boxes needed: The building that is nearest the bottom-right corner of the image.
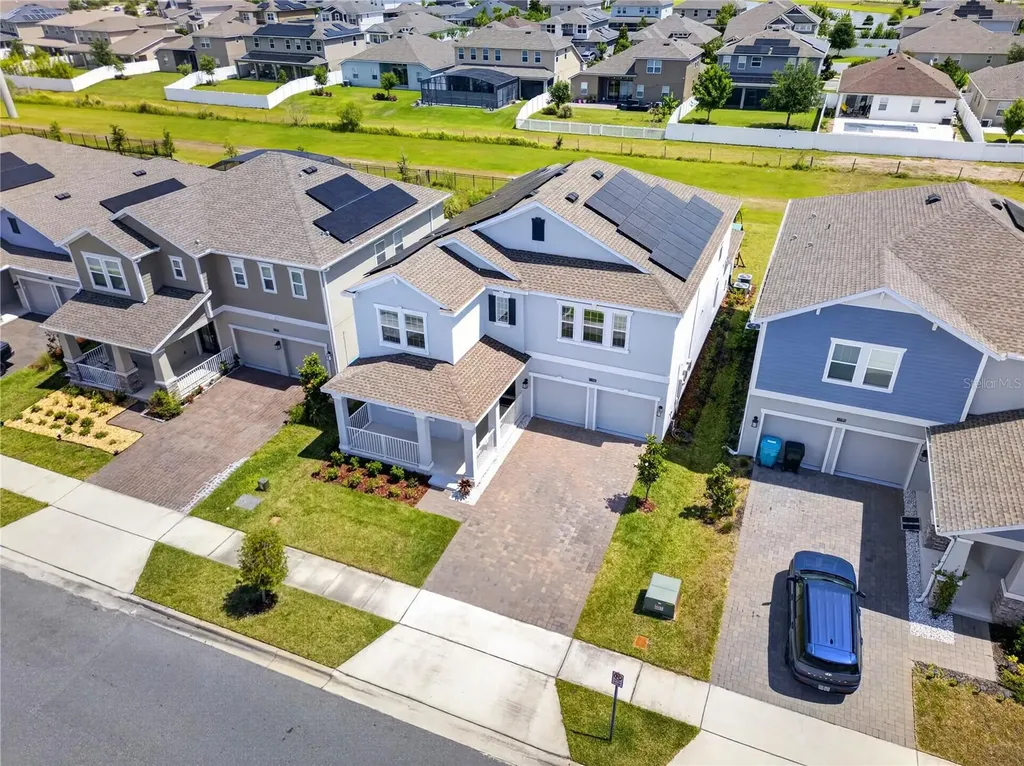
[718,181,1024,630]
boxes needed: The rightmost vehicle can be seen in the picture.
[785,555,866,699]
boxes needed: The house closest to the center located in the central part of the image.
[317,156,743,494]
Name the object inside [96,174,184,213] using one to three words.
solar panel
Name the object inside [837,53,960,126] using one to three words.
house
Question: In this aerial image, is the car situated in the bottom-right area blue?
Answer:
Yes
